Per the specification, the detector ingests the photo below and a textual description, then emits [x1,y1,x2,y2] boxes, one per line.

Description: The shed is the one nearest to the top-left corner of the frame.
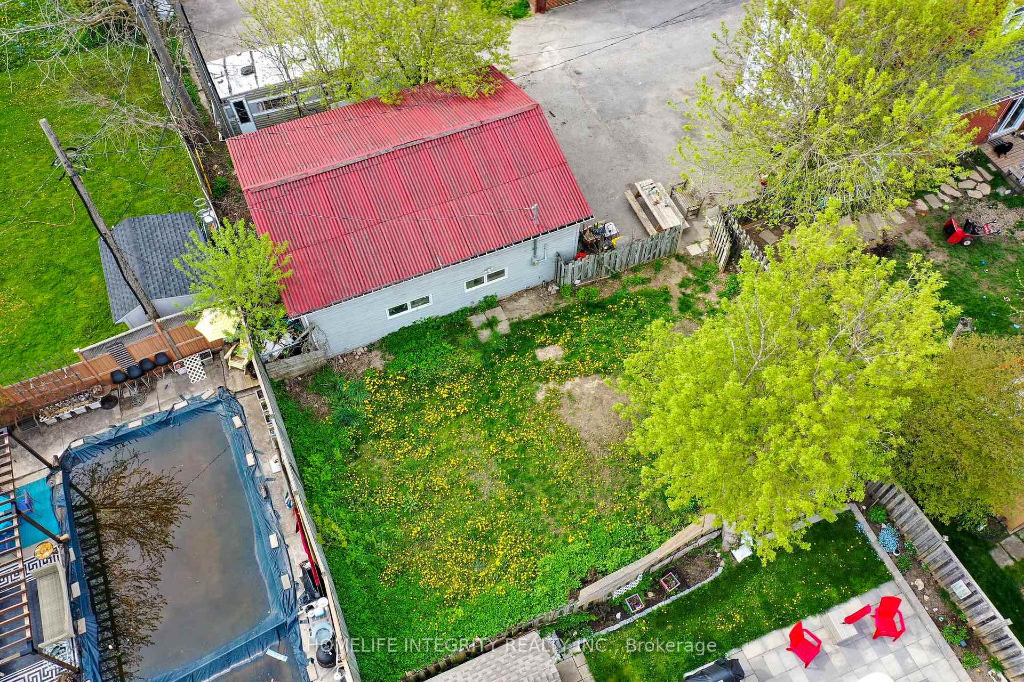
[99,207,219,345]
